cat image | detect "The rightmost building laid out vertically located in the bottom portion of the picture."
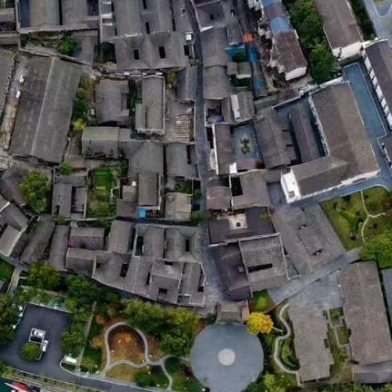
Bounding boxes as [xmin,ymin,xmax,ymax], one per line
[337,262,392,366]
